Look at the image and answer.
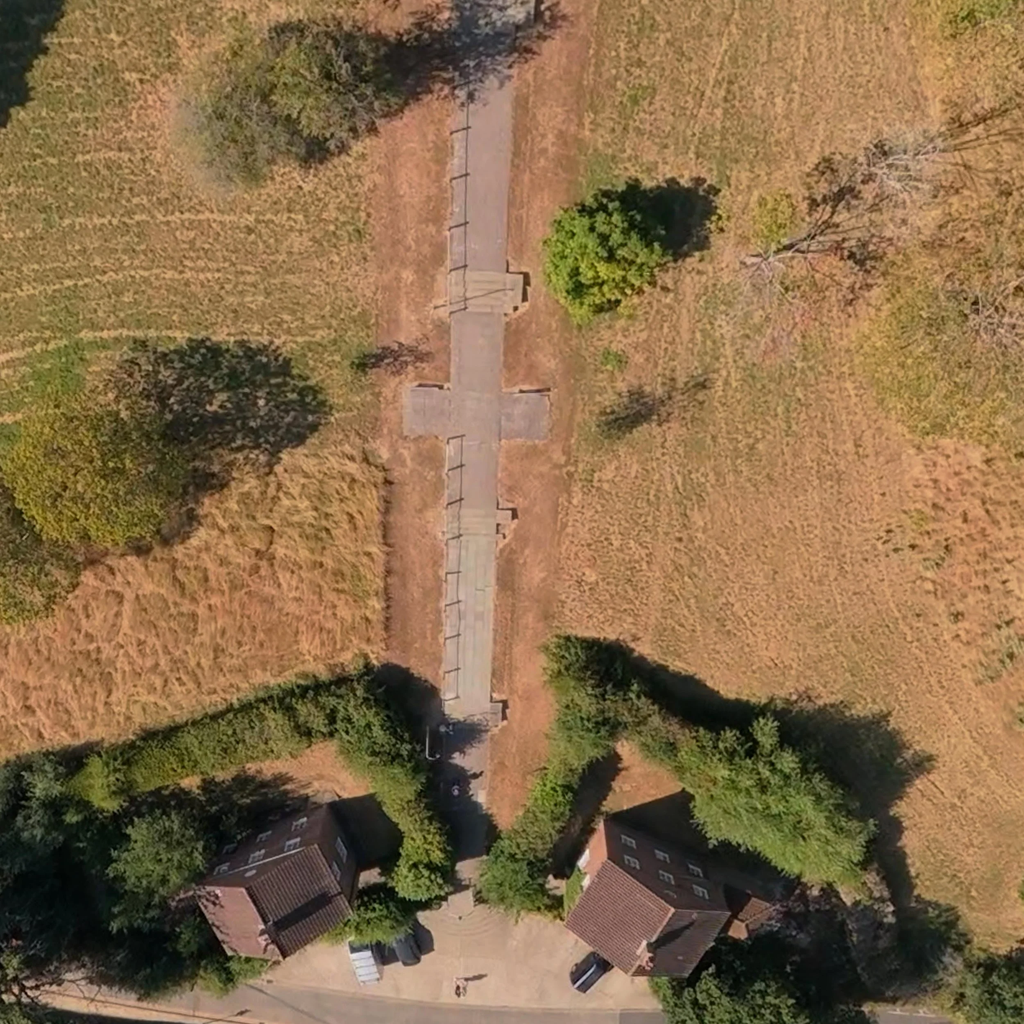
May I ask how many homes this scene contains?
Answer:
2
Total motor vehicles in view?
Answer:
three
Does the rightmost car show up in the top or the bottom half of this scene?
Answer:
bottom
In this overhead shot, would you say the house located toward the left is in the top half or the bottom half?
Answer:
bottom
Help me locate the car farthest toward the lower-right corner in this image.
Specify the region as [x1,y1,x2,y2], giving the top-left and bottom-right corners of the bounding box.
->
[573,956,620,991]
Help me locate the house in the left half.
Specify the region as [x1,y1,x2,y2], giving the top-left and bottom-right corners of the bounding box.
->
[197,807,357,966]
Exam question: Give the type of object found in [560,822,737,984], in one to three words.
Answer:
house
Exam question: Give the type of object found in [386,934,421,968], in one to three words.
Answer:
car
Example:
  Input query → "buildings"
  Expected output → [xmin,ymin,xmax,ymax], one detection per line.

[197,807,357,966]
[560,822,737,984]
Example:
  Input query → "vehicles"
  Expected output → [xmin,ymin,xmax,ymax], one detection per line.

[573,956,620,991]
[386,934,421,968]
[347,941,383,983]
